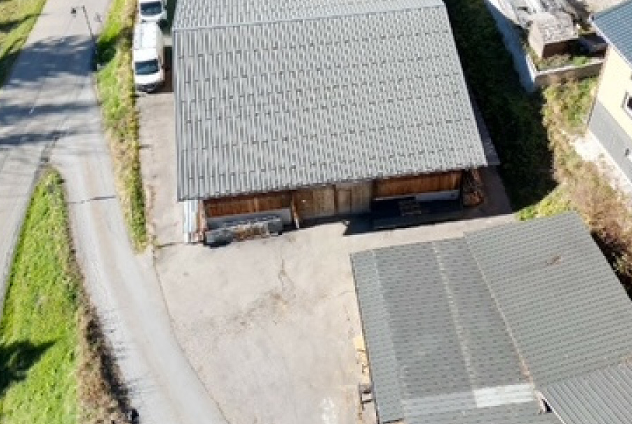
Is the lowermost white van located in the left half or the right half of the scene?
left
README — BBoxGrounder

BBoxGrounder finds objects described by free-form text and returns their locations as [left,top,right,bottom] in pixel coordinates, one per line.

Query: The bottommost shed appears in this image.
[348,211,632,424]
